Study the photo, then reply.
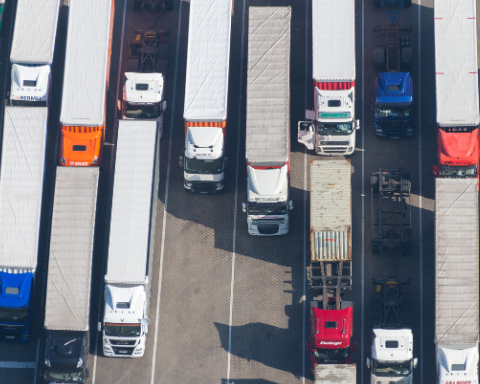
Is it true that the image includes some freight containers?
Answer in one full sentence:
Yes, the image includes a freight container.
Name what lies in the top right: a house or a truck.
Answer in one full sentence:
It is a truck that can be seen in the top right.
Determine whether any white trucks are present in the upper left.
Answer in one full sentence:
Yes, a white truck appears in the upper left.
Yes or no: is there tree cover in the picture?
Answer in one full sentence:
No, there's no tree cover in this view.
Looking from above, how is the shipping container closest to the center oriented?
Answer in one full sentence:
The shipping container closest to the center has been laid out vertically relative to the frame.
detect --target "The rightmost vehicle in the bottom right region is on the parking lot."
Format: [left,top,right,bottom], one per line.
[433,177,480,384]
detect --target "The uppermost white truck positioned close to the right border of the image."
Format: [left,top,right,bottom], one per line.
[434,0,480,193]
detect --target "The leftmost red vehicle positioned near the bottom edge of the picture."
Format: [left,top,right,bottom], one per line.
[305,263,359,372]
